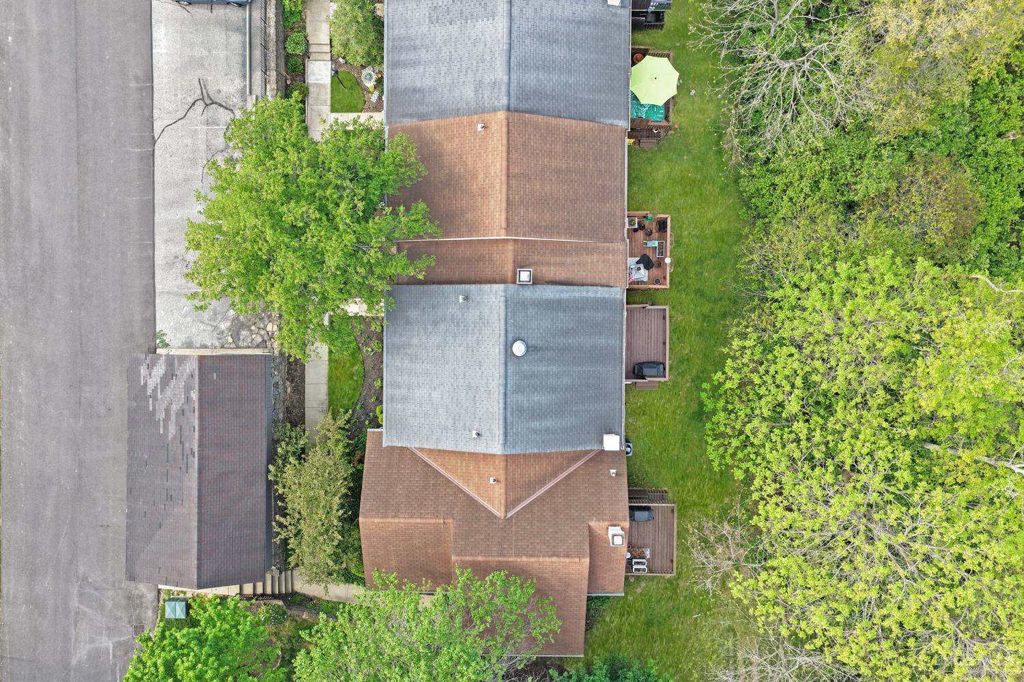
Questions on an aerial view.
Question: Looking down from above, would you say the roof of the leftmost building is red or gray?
gray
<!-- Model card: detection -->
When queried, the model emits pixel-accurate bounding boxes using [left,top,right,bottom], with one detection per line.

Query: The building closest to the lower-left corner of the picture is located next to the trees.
[126,354,272,590]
